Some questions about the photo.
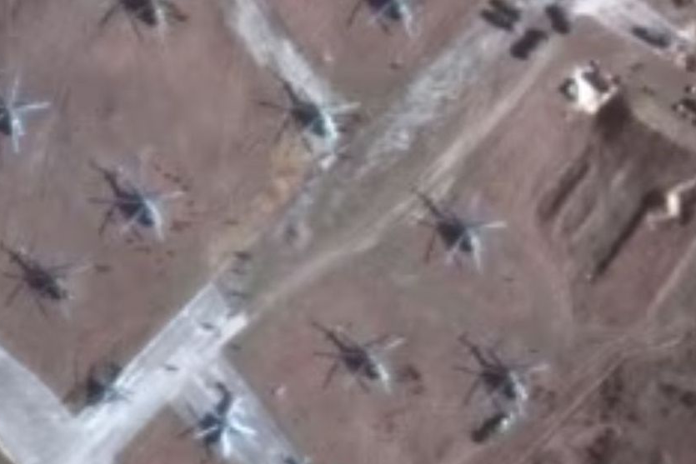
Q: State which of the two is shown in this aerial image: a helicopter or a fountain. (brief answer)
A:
helicopter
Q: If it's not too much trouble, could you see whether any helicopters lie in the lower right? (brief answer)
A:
Yes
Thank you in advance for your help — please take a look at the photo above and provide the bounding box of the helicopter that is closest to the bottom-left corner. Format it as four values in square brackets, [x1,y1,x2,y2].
[83,355,142,422]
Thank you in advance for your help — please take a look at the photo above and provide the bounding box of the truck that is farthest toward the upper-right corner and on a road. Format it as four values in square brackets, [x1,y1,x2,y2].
[638,23,674,47]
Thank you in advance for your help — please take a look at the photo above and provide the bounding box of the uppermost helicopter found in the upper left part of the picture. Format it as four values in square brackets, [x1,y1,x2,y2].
[120,0,162,33]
